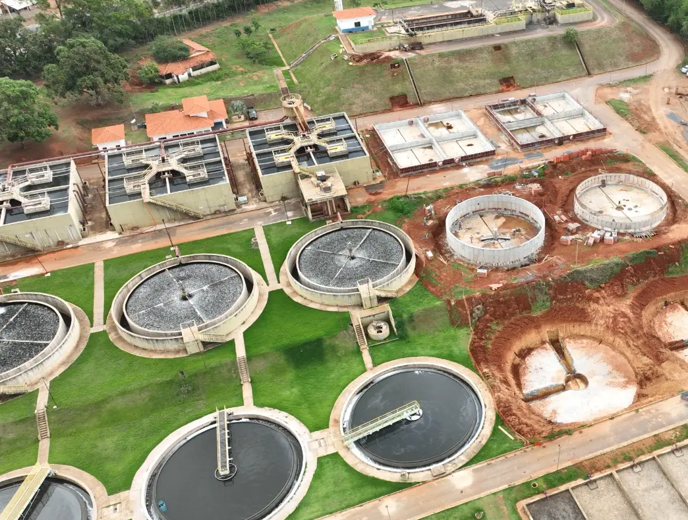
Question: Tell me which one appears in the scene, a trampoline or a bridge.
bridge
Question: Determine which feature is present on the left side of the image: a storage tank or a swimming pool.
storage tank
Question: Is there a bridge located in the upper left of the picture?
No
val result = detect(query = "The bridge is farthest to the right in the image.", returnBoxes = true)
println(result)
[338,404,416,455]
